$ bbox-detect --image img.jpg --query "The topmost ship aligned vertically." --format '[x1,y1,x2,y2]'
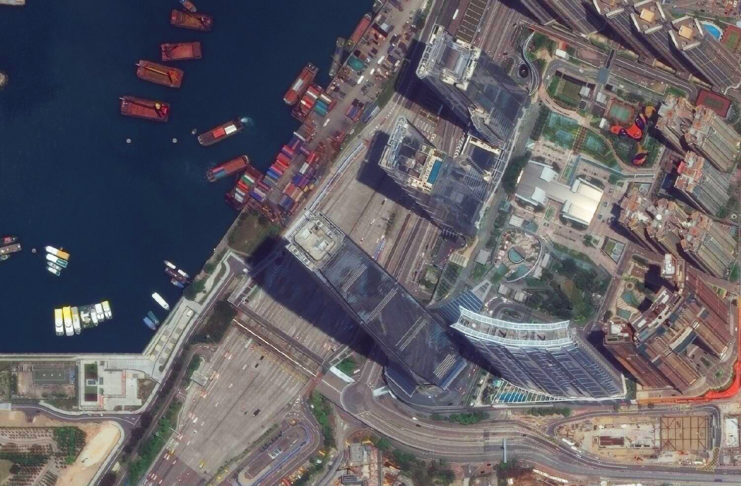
[329,39,344,76]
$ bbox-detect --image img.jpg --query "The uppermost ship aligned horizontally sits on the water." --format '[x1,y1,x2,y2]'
[172,10,213,31]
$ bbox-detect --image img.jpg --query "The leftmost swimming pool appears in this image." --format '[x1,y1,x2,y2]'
[427,160,442,184]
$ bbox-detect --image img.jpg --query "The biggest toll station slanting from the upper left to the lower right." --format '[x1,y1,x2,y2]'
[238,286,340,368]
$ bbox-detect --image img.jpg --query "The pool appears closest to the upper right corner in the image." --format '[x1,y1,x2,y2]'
[701,21,724,42]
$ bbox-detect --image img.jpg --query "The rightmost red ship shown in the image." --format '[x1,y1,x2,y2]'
[344,14,372,54]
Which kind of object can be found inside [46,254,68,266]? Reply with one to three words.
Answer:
boat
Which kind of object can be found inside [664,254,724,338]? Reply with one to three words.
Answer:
building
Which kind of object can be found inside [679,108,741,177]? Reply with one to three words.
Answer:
building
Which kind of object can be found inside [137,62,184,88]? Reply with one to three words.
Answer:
ship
